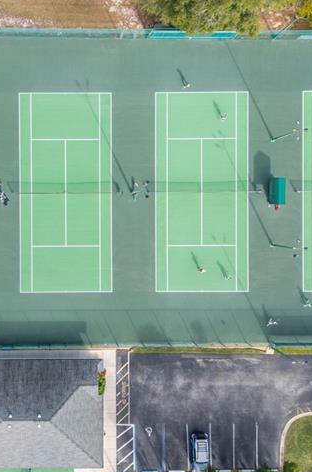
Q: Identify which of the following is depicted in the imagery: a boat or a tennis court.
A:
tennis court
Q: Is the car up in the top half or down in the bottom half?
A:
bottom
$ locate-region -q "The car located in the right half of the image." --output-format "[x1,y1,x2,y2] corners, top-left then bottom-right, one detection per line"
[191,433,212,472]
